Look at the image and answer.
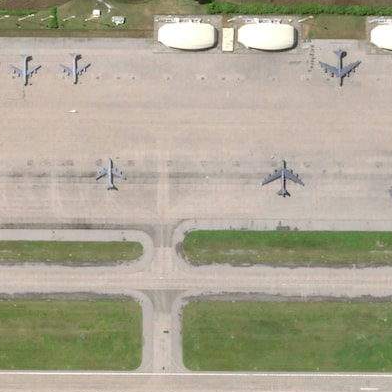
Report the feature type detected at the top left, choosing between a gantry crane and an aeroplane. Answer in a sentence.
The feature located at the top left is an aeroplane.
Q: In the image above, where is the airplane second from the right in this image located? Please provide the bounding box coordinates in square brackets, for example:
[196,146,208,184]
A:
[265,160,306,196]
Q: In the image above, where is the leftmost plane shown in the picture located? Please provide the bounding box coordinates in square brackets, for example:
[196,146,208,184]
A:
[12,54,42,85]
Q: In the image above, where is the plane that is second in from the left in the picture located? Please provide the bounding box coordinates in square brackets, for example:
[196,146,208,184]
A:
[61,53,92,84]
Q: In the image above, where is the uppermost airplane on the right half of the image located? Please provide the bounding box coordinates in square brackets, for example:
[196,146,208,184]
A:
[322,48,363,85]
